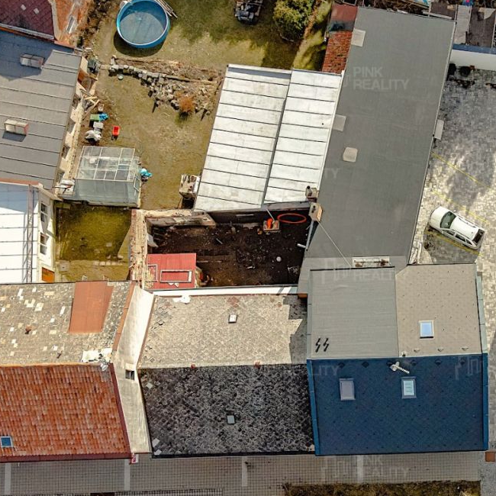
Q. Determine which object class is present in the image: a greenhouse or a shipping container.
greenhouse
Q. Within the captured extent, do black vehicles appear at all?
No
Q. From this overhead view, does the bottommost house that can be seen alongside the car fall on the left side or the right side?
right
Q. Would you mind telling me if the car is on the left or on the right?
right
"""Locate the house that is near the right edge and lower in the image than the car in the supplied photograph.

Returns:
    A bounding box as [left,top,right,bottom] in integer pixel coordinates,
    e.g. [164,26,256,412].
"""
[304,262,491,457]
